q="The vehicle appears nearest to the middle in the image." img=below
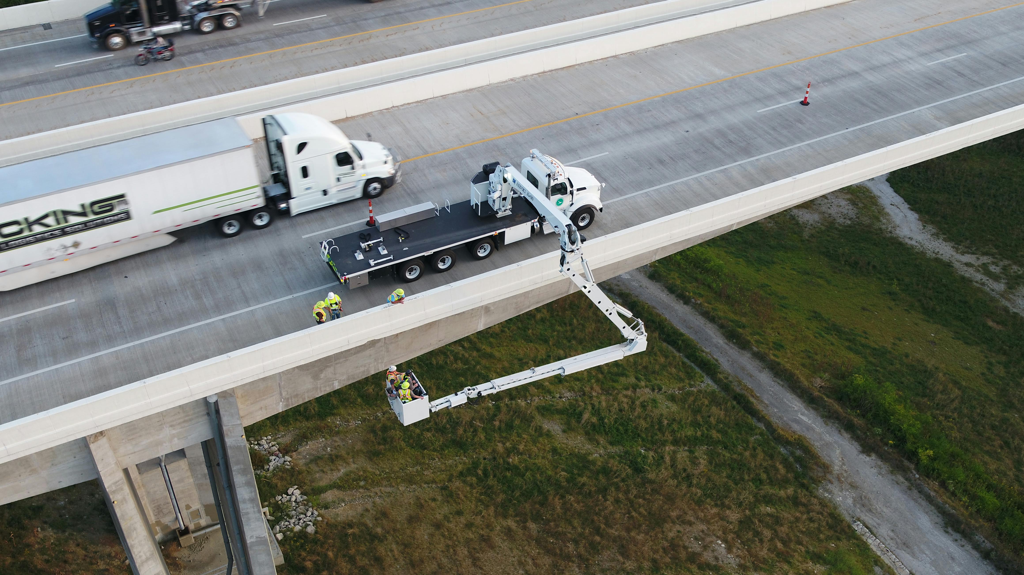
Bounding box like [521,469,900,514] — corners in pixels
[315,148,647,426]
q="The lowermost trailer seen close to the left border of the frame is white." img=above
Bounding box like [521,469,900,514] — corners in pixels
[0,118,265,292]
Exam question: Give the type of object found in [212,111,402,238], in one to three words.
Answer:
truck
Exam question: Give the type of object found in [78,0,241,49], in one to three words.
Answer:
truck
